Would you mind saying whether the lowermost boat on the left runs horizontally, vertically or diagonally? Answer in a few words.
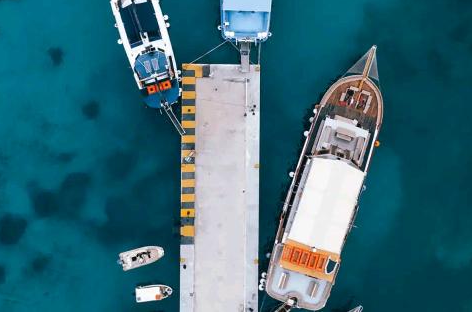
horizontally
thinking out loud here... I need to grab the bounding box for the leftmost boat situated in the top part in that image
[111,0,186,136]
